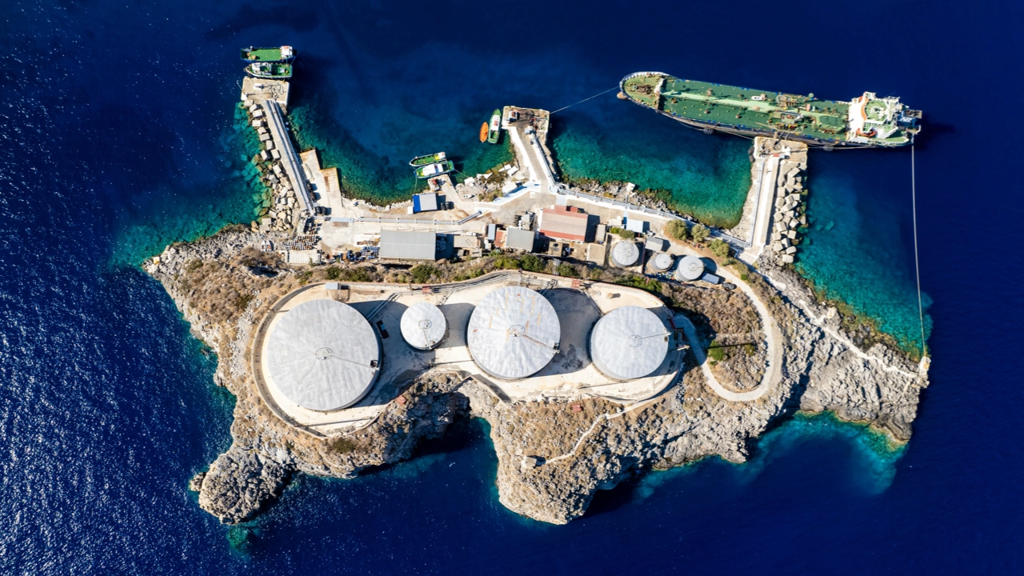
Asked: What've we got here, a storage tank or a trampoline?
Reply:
storage tank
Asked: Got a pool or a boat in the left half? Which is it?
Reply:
boat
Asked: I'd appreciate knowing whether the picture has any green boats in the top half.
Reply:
Yes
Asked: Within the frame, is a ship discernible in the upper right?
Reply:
Yes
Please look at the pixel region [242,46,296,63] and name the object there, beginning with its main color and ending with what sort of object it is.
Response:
green boat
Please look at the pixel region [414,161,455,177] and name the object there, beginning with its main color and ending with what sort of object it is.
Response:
white boat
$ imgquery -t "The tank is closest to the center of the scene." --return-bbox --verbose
[466,286,560,380]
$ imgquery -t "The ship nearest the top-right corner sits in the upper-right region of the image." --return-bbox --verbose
[619,74,922,153]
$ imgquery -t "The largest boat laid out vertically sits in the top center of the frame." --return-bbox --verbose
[487,109,501,145]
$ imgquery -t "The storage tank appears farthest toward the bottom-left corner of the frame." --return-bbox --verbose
[267,299,381,411]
